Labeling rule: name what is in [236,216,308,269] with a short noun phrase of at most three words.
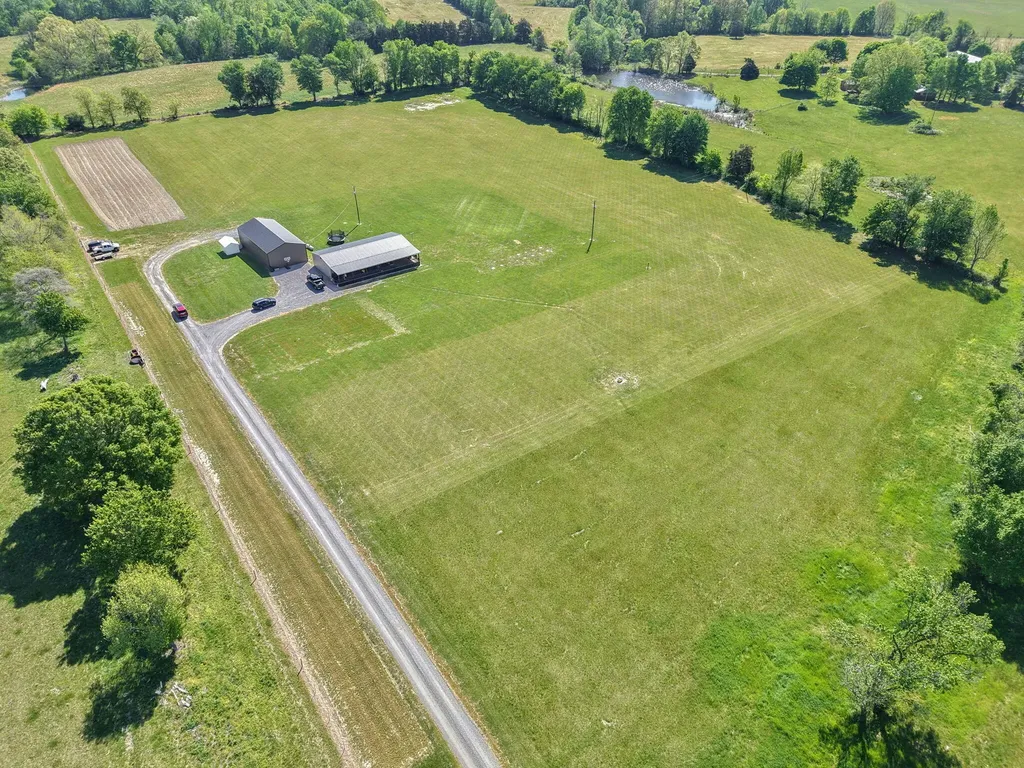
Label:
building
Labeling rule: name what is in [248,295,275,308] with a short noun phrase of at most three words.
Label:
vehicle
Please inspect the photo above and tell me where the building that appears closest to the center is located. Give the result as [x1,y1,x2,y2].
[315,231,421,285]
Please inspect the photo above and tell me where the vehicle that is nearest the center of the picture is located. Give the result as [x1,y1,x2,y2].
[305,276,327,290]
